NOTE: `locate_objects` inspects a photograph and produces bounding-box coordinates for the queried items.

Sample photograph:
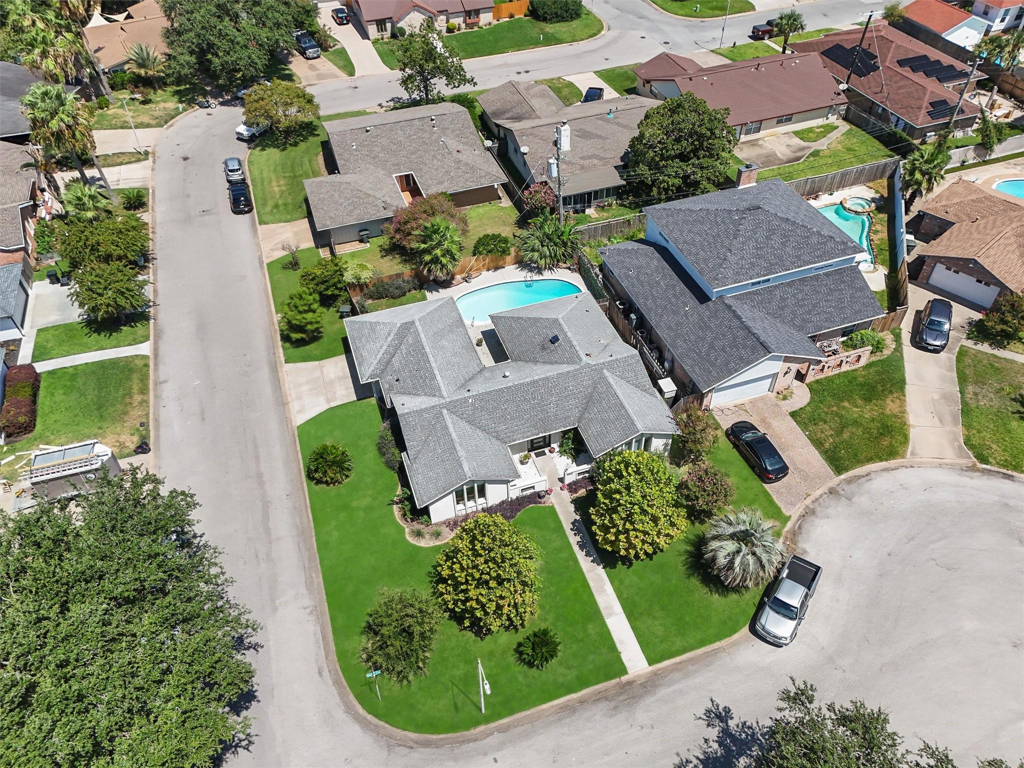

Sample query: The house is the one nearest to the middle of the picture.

[342,291,682,520]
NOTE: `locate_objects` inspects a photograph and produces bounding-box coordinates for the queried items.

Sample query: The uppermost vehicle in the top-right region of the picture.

[749,21,787,40]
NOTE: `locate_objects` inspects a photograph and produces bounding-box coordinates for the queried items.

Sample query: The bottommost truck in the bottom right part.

[756,556,820,649]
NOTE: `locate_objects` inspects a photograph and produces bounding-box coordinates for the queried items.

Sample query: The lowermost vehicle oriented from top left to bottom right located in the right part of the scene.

[728,422,789,483]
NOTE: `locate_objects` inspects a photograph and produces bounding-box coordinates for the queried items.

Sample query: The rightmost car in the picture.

[915,294,960,352]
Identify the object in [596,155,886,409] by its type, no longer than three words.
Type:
house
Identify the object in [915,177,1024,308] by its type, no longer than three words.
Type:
house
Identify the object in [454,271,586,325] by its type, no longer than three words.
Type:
swimming pool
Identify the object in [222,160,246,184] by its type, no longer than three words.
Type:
car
